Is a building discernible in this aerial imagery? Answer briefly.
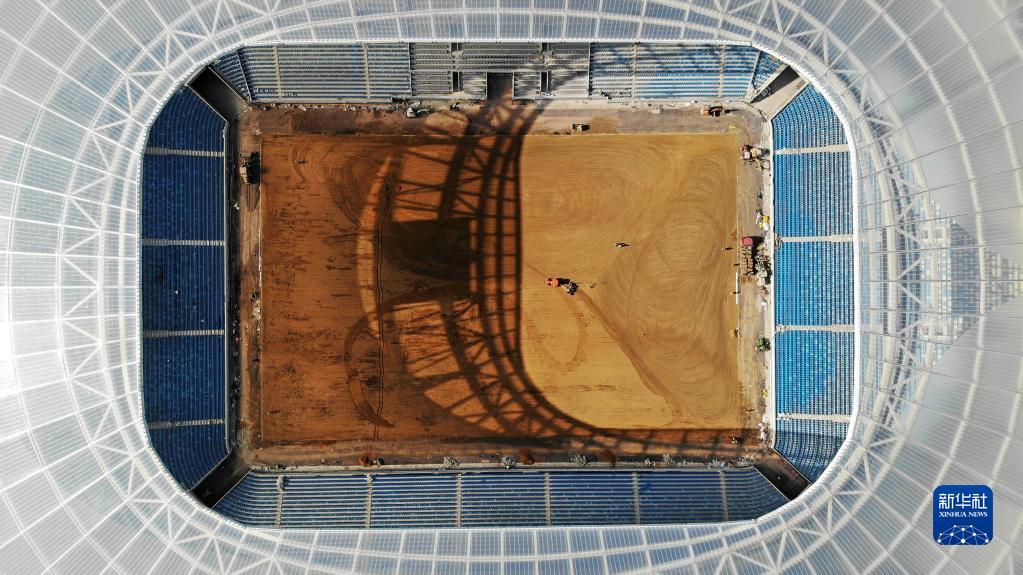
No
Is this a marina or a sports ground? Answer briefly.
sports ground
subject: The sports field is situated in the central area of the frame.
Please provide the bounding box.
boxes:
[260,134,740,442]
